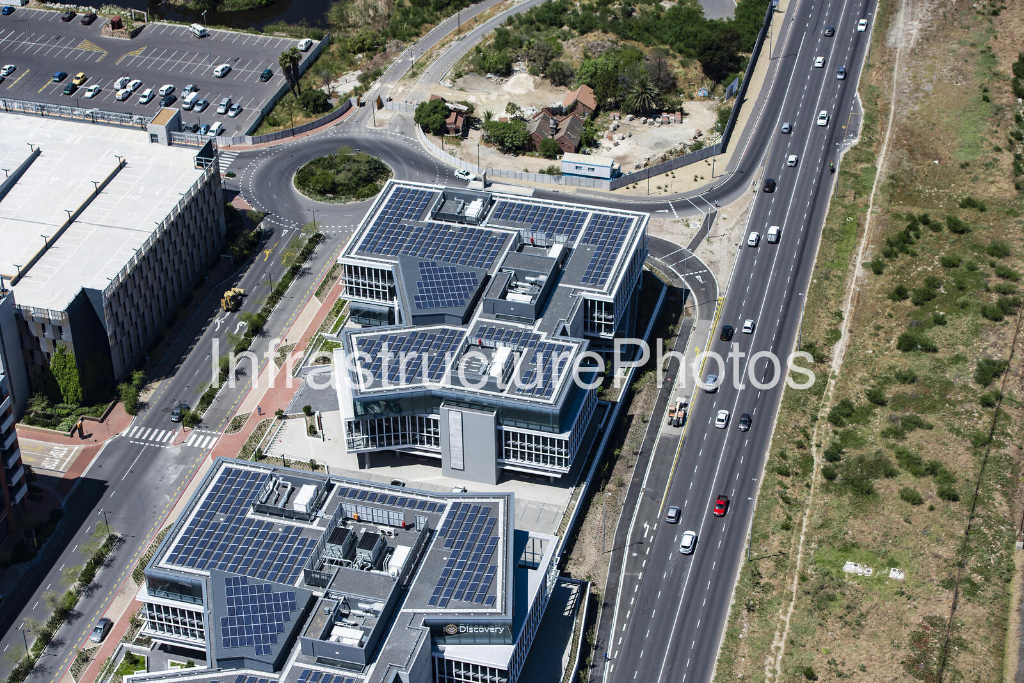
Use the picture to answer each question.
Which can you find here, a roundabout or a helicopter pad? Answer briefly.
roundabout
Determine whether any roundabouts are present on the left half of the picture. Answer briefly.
Yes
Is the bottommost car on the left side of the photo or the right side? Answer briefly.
left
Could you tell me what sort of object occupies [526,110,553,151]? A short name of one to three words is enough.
house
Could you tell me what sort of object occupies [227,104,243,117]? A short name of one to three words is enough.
vehicle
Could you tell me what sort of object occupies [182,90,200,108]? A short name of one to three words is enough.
vehicle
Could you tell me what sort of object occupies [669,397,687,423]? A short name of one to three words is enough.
work vehicle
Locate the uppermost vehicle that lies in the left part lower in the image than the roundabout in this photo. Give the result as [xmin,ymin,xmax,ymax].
[221,286,249,309]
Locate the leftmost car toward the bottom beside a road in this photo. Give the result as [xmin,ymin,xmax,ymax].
[88,618,113,644]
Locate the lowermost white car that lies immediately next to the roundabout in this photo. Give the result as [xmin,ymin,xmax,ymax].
[452,168,477,181]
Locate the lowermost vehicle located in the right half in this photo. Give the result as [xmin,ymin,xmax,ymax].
[680,531,697,555]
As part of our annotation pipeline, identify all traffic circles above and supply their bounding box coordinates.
[236,128,450,234]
